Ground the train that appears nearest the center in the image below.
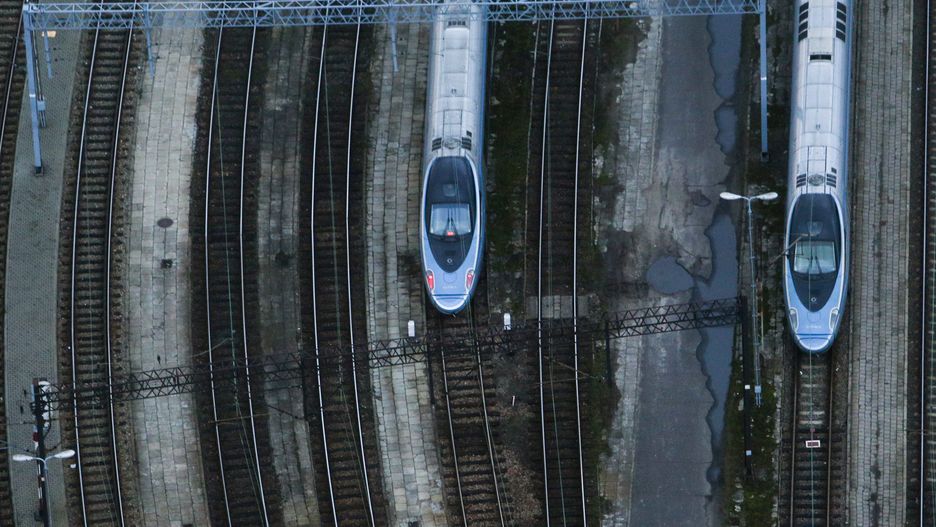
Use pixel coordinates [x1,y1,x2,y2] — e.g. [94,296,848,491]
[422,0,493,324]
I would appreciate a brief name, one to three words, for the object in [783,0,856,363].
train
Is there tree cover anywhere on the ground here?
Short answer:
No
